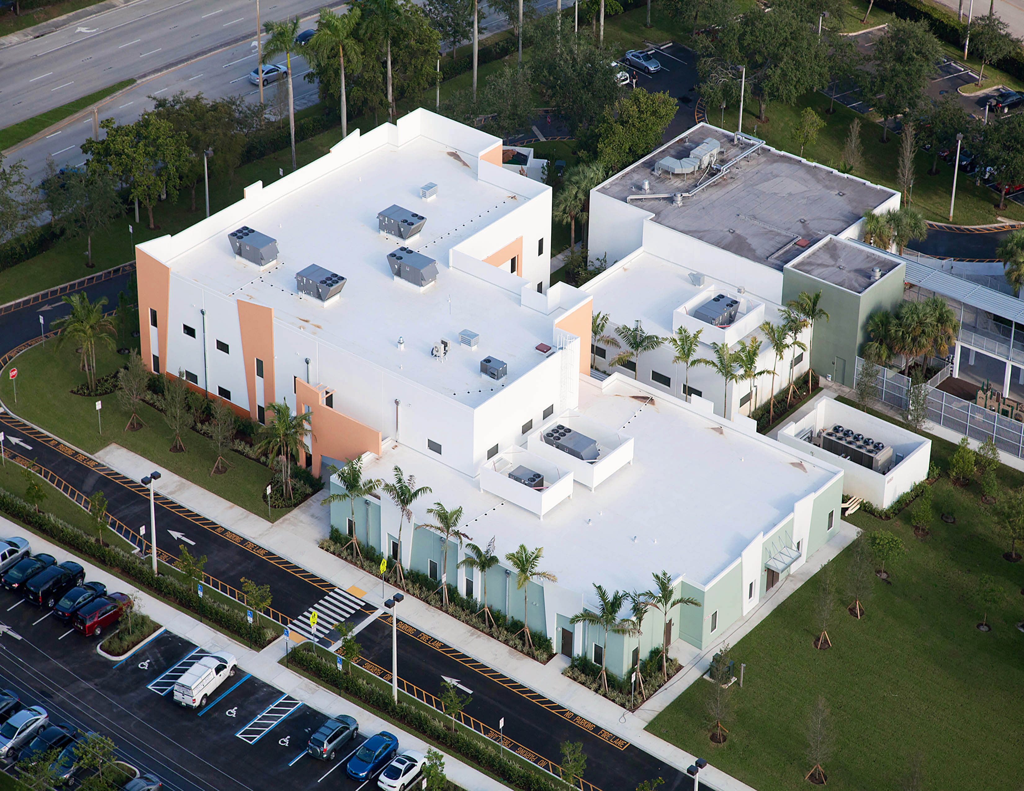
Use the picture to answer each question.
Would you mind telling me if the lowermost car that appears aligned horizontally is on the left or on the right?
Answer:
left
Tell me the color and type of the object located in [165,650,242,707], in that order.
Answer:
white truck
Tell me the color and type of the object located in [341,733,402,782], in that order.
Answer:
blue car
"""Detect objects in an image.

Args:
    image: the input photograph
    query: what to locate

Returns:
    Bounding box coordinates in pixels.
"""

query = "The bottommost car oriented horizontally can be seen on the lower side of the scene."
[111,766,165,791]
